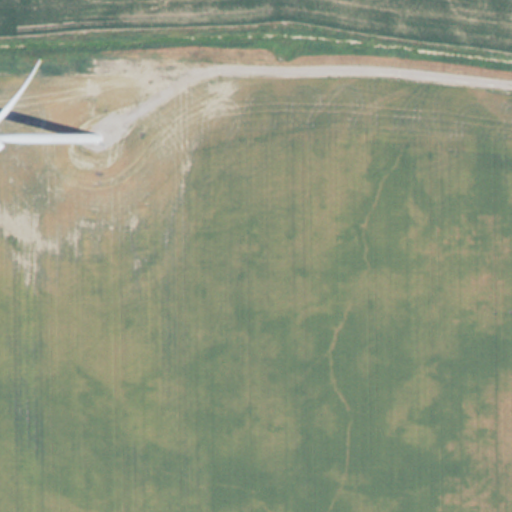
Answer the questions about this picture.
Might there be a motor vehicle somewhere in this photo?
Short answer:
No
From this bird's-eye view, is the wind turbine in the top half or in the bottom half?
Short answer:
top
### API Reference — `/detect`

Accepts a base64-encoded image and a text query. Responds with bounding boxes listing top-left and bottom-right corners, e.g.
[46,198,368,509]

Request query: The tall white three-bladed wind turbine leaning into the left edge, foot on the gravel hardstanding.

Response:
[0,61,106,152]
